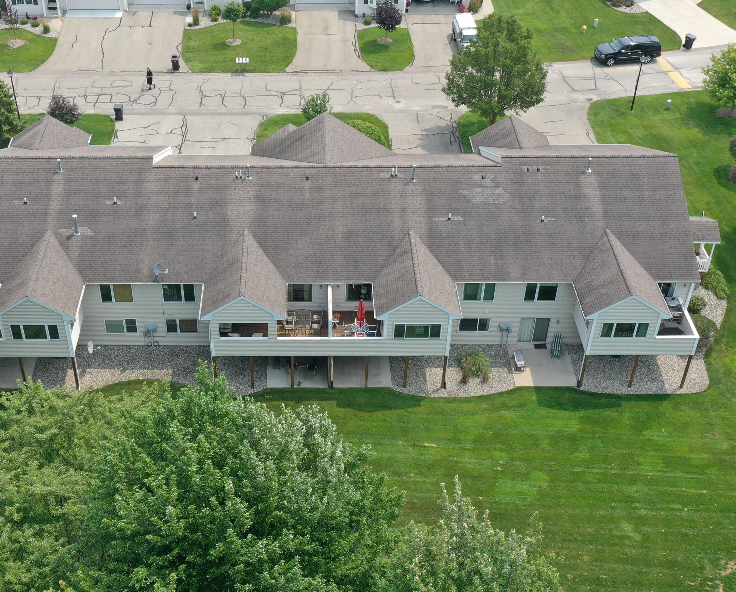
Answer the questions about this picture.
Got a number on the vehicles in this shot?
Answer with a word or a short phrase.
2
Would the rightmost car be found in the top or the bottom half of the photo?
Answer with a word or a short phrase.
top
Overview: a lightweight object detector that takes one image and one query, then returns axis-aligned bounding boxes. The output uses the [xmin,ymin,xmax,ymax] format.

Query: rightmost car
[592,25,665,59]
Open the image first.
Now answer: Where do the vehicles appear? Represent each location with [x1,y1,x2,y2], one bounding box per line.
[448,4,484,43]
[592,25,665,59]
